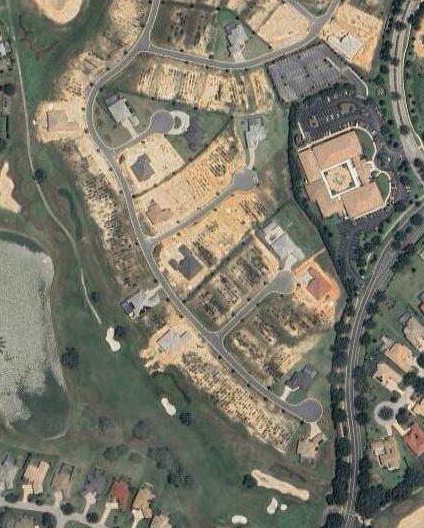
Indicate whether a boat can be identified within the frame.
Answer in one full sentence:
No, no boat is visible in the view.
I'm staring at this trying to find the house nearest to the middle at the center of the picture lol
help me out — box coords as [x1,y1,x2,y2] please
[170,248,204,278]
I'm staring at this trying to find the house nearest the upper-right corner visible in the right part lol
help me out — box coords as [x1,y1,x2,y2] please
[331,28,361,61]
